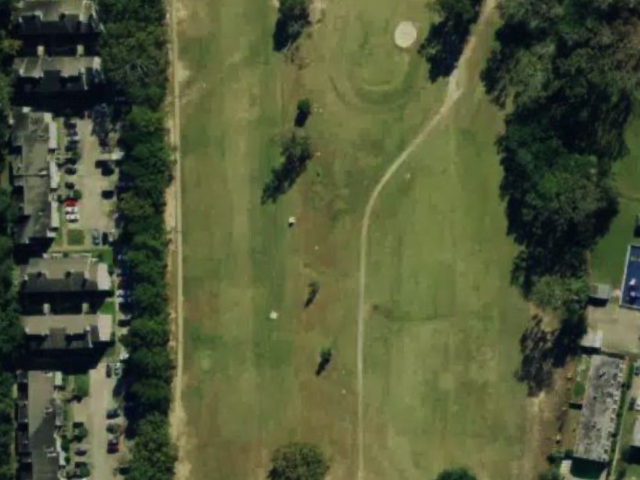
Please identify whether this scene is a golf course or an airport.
golf course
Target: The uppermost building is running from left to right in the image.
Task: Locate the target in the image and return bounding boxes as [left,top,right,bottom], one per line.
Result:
[13,0,100,33]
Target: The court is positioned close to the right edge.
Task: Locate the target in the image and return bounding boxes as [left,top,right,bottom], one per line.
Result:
[620,245,640,310]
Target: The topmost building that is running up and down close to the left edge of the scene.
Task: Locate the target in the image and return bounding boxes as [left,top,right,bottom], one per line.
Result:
[12,108,59,243]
